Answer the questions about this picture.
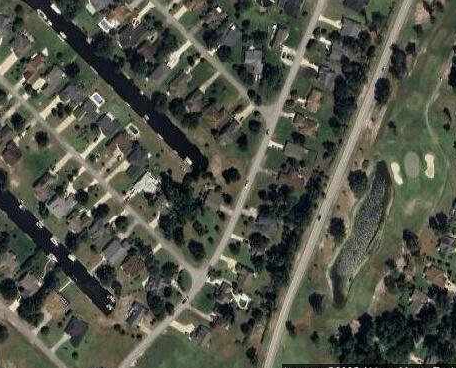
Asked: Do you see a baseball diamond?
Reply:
No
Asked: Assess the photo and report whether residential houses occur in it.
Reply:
Yes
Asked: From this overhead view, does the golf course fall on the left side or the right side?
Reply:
right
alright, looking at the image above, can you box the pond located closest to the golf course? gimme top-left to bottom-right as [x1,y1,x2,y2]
[332,159,391,307]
